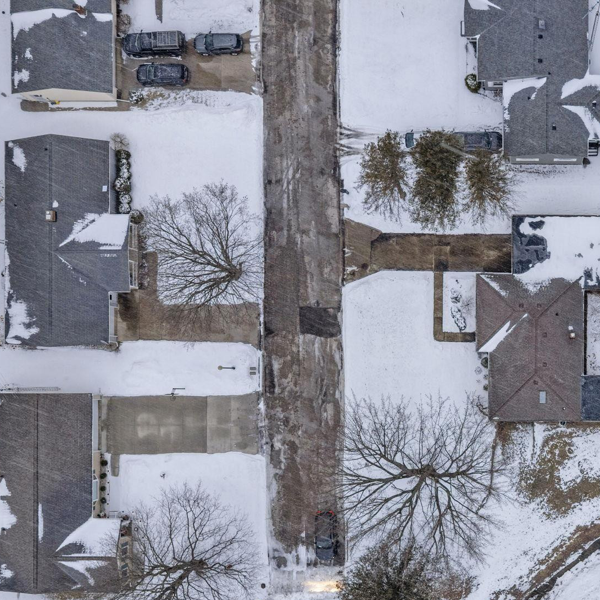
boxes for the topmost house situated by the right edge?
[460,0,600,163]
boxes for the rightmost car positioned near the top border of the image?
[192,27,241,54]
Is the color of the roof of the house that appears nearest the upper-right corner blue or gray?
gray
